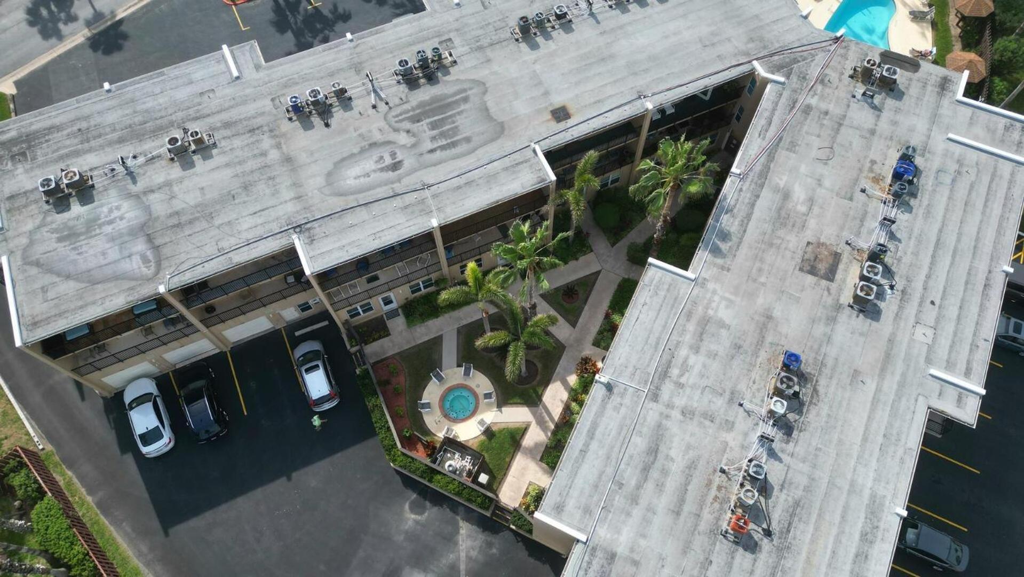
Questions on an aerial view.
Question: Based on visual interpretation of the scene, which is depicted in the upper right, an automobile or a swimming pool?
swimming pool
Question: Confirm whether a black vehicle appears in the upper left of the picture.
No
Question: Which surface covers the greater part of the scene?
buildings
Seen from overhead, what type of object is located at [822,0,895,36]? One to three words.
swimming pool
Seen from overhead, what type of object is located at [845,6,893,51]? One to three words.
swimming pool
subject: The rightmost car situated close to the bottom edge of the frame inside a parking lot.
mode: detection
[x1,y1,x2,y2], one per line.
[898,510,971,569]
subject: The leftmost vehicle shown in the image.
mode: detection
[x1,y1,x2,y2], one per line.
[127,377,177,462]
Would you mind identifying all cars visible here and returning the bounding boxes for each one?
[994,311,1024,356]
[178,364,226,447]
[898,510,971,569]
[295,337,340,417]
[127,377,177,462]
